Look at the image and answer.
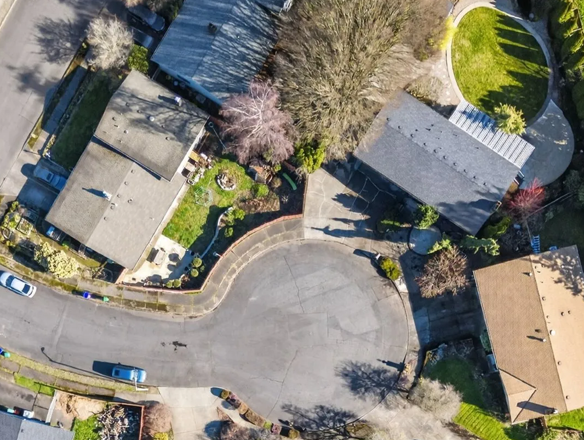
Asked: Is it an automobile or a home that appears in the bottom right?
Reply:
home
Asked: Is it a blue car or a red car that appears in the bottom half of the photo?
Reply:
blue car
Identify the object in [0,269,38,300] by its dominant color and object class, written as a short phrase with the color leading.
white car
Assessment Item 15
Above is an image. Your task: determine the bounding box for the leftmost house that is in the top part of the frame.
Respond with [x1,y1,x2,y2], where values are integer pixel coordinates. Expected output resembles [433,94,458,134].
[44,72,210,269]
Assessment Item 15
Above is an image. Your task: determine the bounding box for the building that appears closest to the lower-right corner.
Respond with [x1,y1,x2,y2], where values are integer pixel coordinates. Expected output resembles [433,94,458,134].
[471,245,584,423]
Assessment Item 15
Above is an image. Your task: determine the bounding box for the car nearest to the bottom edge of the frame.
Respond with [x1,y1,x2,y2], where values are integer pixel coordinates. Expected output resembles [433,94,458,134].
[112,364,148,382]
